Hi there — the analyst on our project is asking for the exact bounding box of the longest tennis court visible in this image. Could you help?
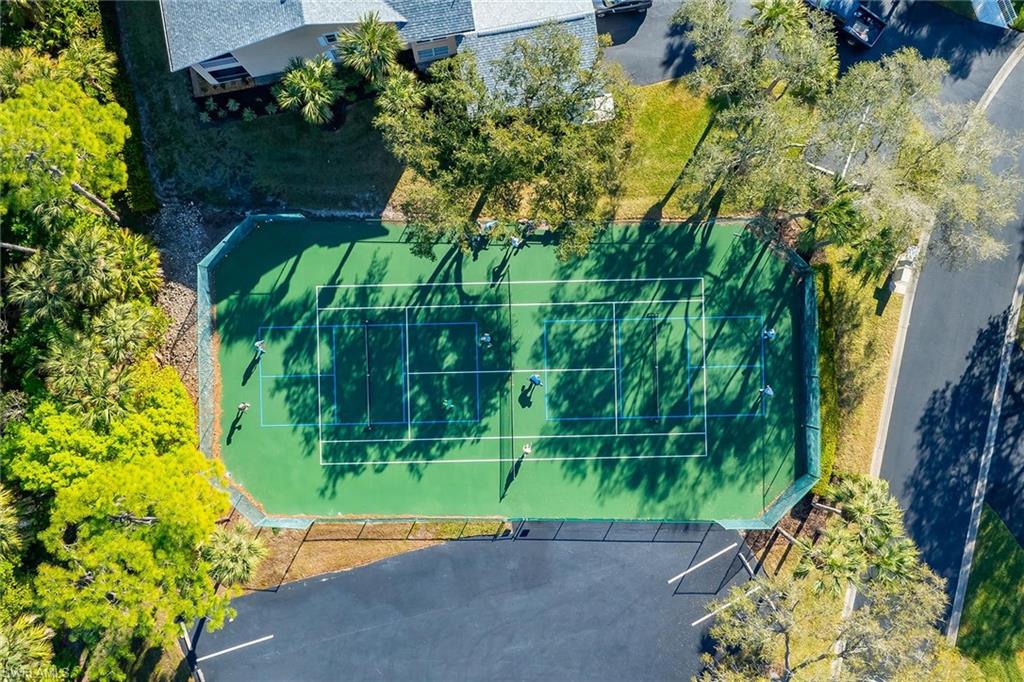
[220,221,805,518]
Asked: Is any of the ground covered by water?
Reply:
No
